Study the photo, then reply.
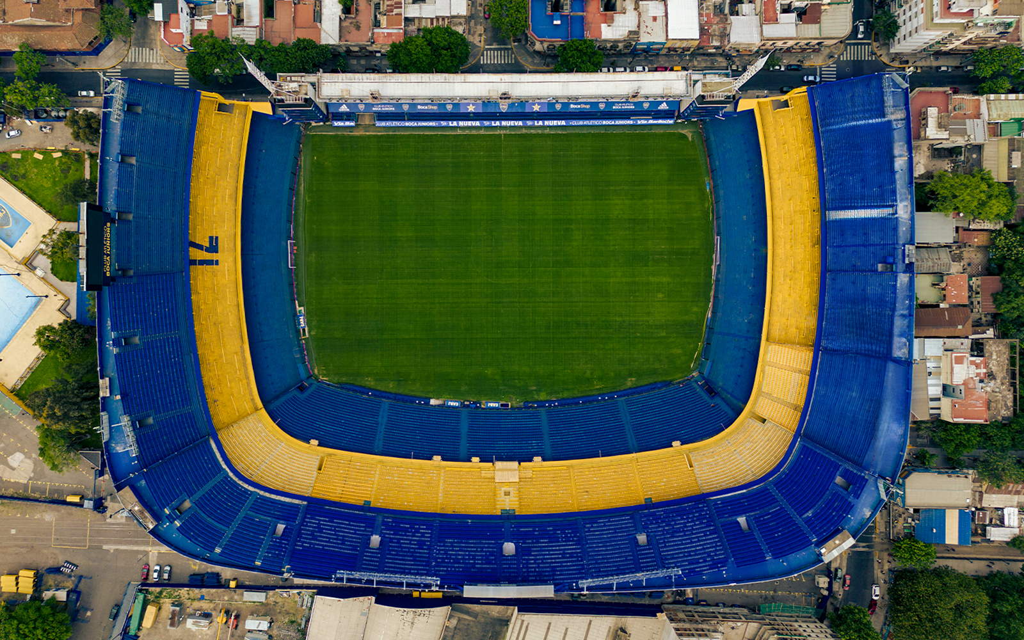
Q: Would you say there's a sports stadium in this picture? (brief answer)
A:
Yes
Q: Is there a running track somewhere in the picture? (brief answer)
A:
No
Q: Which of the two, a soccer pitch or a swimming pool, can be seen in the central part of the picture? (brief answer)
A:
soccer pitch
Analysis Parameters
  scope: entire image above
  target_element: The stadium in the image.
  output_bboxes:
[93,69,918,598]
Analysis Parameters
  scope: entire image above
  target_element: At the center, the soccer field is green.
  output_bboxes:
[293,119,716,410]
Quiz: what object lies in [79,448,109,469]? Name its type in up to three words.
shed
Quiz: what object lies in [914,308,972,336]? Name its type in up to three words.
house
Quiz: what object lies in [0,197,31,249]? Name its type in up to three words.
swimming pool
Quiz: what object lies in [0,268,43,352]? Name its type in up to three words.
swimming pool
